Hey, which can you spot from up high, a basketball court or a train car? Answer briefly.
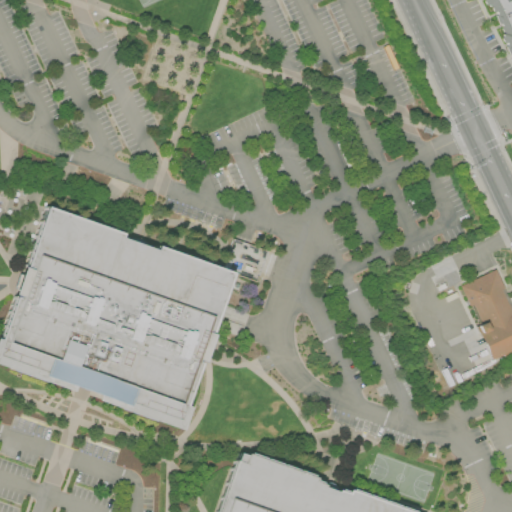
basketball court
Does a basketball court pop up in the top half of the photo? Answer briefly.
No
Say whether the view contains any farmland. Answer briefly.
No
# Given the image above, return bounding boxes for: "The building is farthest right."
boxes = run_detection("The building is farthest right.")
[461,270,512,358]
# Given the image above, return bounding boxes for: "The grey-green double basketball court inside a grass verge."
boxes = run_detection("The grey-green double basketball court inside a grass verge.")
[370,454,434,502]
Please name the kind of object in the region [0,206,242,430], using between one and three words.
building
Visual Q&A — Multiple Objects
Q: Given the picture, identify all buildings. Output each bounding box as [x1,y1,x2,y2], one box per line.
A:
[461,270,512,358]
[216,452,426,512]
[0,206,242,430]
